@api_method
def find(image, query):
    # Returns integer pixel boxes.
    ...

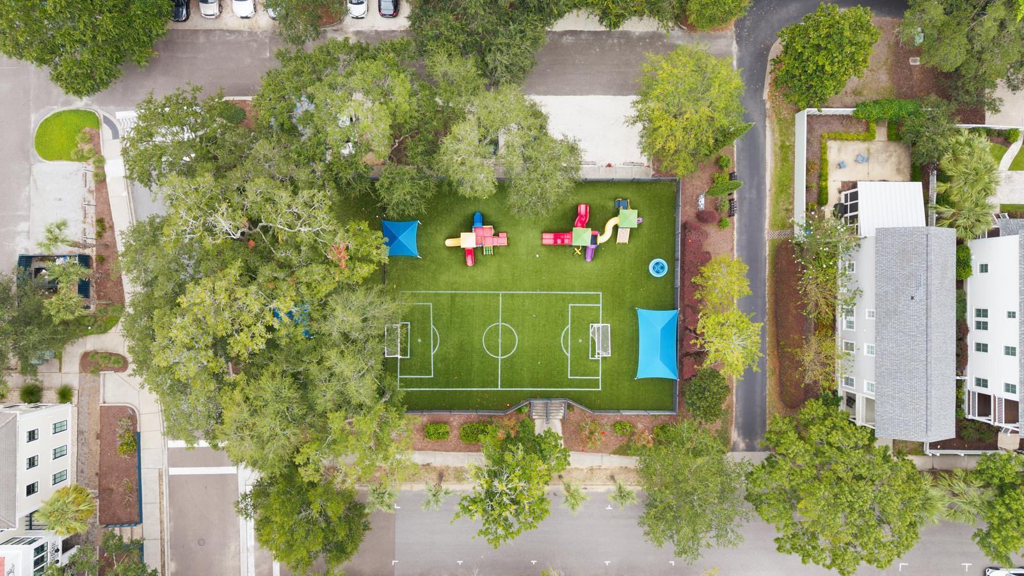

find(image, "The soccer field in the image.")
[395,289,605,392]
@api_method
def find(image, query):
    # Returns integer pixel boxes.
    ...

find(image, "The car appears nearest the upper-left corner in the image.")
[165,0,192,22]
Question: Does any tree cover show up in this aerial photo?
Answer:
Yes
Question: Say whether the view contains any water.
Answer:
No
